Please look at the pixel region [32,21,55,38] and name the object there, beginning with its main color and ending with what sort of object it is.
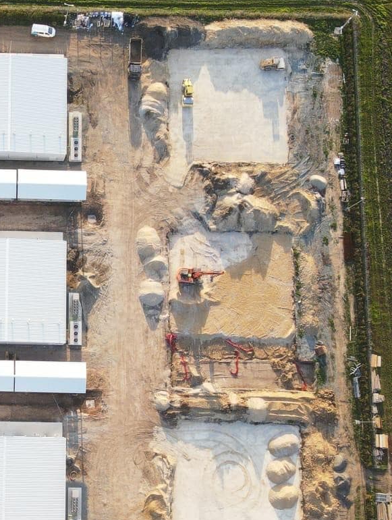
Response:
white vehicle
